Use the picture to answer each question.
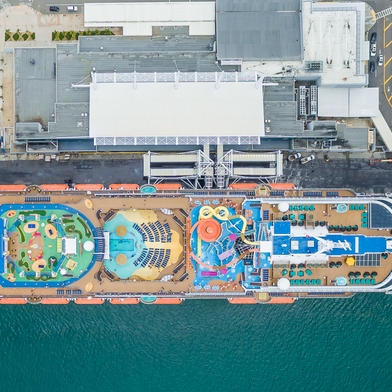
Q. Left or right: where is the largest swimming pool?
left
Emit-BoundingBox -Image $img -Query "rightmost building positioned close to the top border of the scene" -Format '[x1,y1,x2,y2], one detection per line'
[265,1,369,86]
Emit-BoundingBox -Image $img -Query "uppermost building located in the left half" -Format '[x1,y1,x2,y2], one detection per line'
[84,2,215,36]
